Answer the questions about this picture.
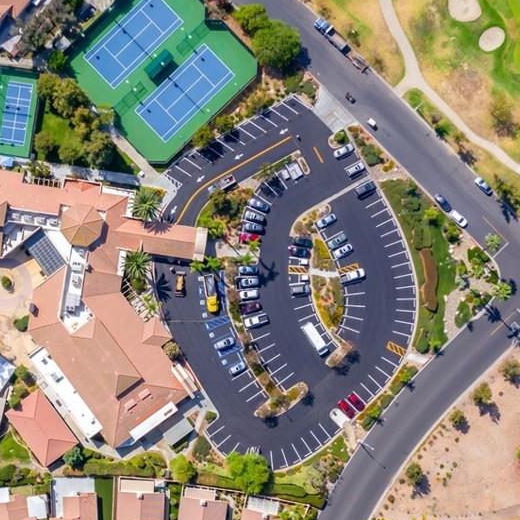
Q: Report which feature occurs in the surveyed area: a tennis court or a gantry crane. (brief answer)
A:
tennis court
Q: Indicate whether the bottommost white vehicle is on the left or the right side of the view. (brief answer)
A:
right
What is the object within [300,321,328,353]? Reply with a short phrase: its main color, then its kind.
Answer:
white vehicle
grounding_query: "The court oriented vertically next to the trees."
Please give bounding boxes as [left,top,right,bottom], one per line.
[0,66,38,155]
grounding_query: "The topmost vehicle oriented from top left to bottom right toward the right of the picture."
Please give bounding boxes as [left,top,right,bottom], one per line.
[315,18,348,46]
